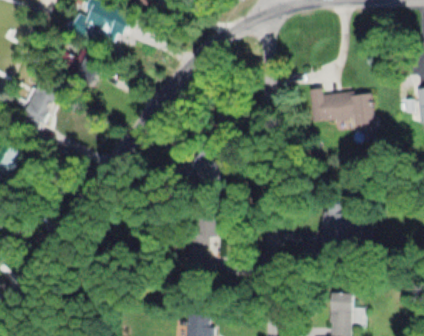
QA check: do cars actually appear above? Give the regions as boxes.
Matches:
[0,266,11,274]
[303,74,308,84]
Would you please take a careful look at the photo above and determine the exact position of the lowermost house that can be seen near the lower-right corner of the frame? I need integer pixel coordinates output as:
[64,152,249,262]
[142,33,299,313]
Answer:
[331,294,369,336]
